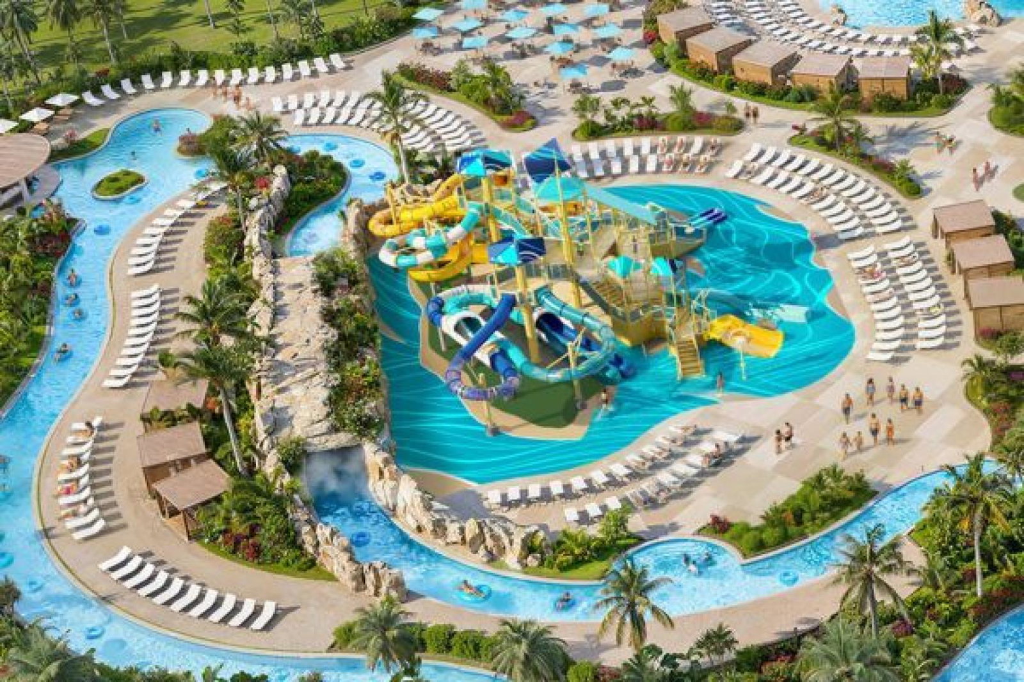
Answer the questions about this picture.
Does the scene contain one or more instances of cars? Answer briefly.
No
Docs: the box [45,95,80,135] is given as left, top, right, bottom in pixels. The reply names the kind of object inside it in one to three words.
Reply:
umbrella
